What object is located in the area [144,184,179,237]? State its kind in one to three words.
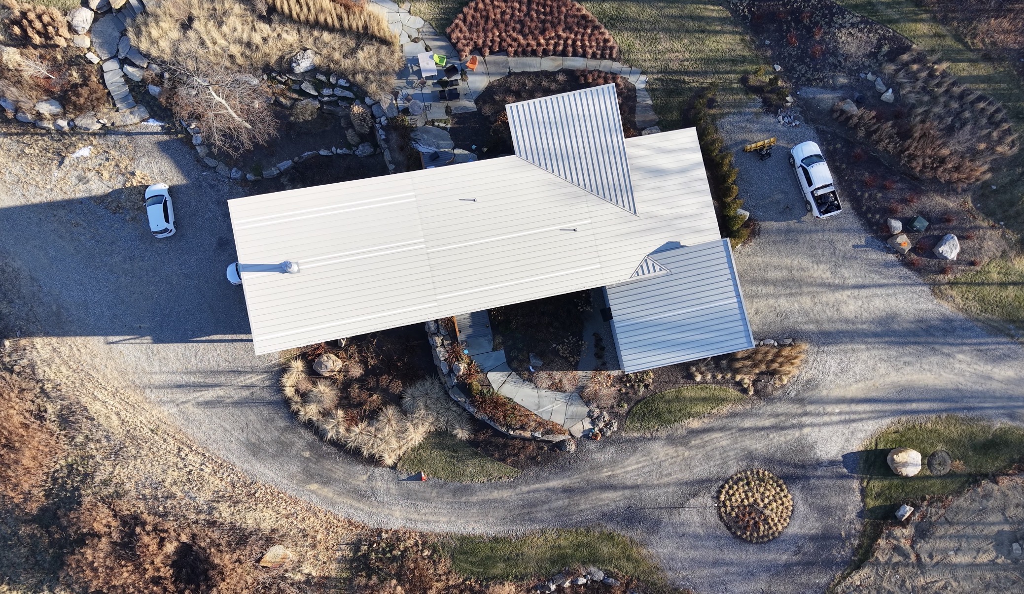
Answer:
car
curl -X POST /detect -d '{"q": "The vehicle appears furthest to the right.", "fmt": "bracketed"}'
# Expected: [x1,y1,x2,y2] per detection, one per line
[789,143,845,225]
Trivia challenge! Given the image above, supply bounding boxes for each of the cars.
[144,184,179,237]
[228,261,242,286]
